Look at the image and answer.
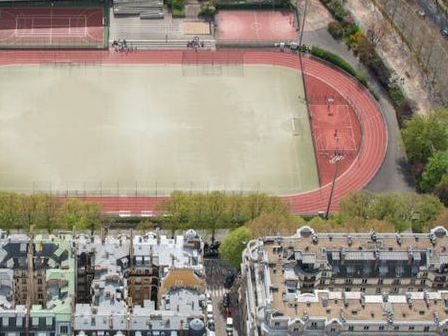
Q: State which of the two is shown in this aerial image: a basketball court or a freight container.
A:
basketball court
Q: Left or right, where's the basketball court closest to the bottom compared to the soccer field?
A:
on its right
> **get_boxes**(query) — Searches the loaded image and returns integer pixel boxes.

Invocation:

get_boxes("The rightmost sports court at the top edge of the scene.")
[213,10,299,39]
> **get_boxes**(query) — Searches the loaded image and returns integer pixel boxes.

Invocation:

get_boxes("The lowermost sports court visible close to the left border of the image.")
[1,8,102,42]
